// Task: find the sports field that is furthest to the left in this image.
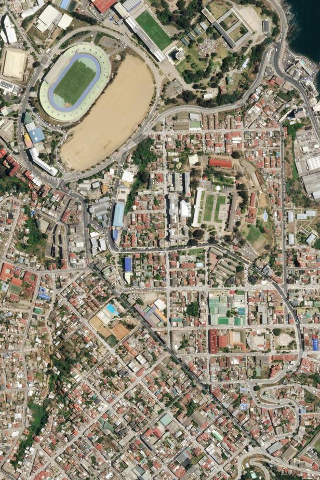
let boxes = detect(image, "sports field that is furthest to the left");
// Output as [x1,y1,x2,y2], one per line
[54,59,96,105]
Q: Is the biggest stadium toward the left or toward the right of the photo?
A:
left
